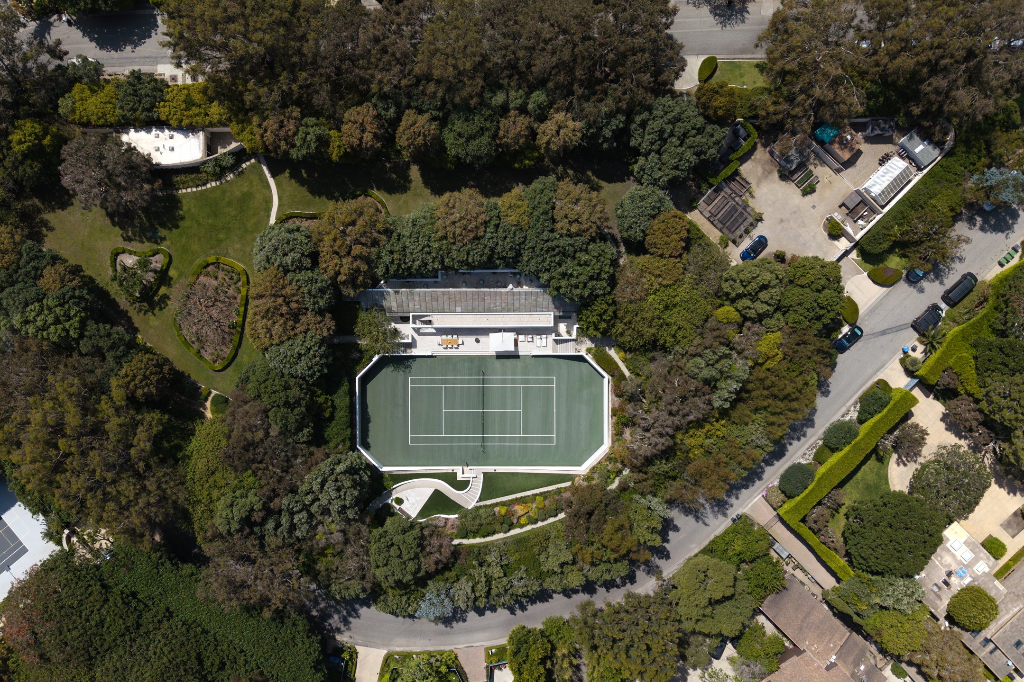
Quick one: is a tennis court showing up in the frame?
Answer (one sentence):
Yes, this view includes a tennis court.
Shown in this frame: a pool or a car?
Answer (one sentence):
Of the two, only a car appears.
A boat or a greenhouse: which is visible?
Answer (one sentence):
This aerial view contains a greenhouse.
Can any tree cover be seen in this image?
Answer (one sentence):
Yes, the picture does contain tree cover.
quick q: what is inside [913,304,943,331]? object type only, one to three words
car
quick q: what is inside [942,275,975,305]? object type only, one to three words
car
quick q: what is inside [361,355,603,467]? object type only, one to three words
tennis court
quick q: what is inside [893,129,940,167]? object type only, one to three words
shed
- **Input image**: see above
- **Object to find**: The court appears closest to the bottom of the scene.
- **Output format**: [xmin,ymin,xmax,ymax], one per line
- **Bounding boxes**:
[0,478,64,603]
